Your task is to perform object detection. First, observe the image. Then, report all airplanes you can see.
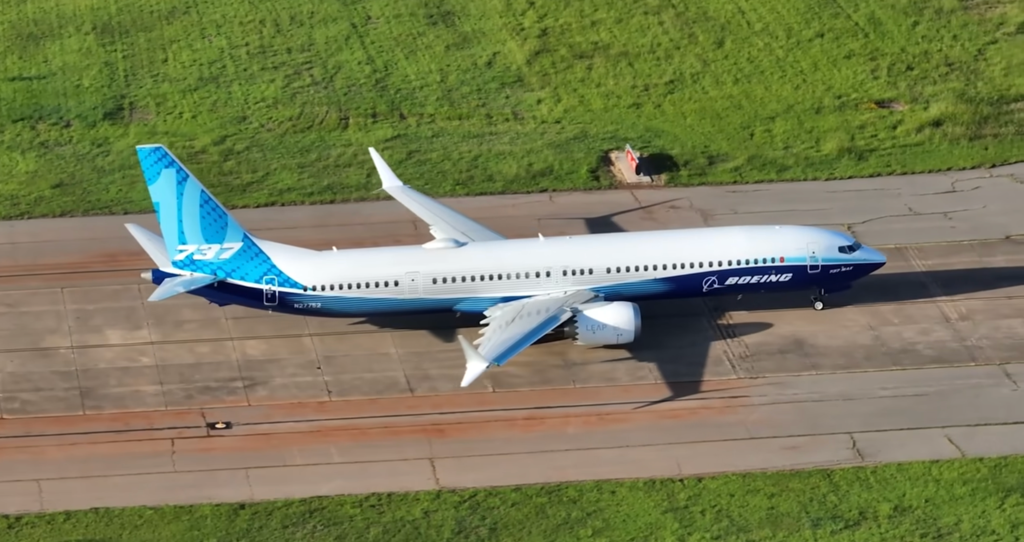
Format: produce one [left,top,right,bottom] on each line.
[123,146,886,388]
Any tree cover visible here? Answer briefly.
No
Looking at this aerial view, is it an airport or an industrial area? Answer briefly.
airport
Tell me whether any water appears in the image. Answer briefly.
No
